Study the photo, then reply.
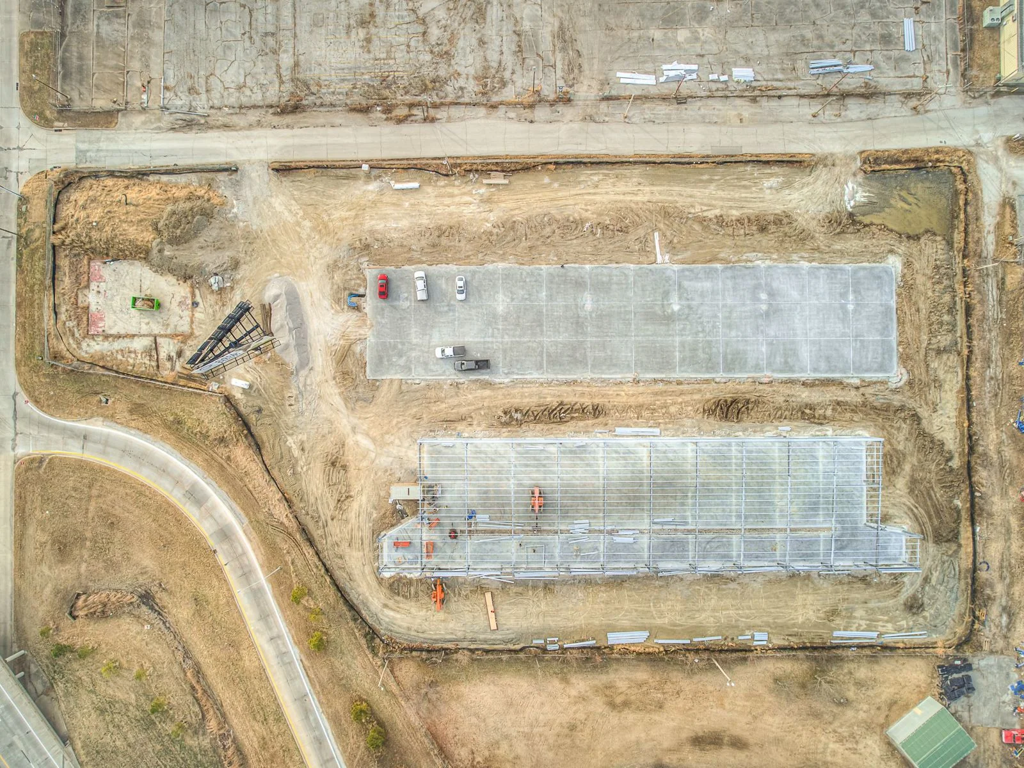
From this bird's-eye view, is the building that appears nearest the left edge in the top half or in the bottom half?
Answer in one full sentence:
It is in the bottom half that the building that appears nearest the left edge appears.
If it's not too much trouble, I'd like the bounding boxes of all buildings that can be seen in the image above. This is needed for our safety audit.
[379,436,924,571]
[999,0,1024,85]
[887,696,977,768]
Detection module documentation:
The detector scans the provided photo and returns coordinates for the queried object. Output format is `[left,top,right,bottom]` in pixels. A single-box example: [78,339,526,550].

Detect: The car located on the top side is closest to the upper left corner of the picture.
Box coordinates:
[374,274,387,300]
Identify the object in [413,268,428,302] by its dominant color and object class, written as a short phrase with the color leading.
white vehicle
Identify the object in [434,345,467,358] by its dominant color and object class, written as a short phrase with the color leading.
white vehicle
